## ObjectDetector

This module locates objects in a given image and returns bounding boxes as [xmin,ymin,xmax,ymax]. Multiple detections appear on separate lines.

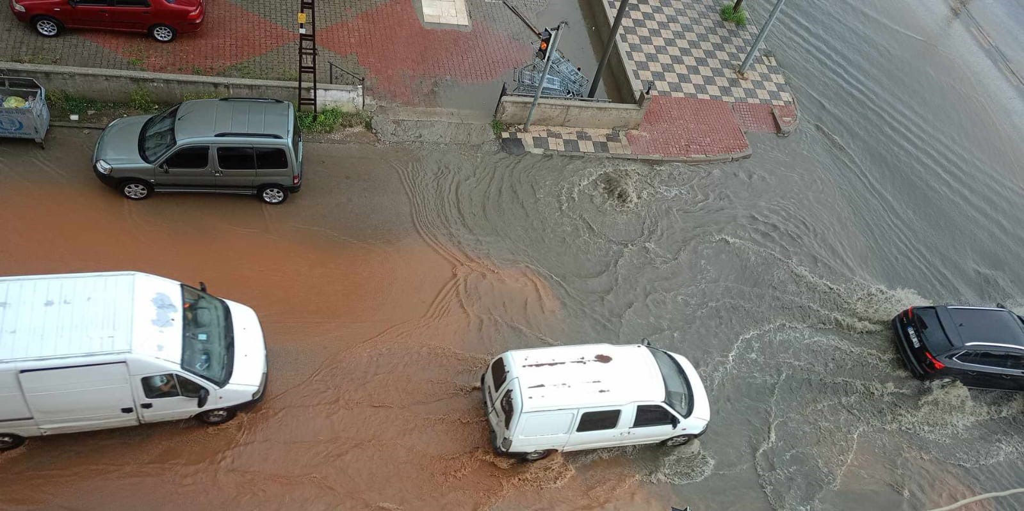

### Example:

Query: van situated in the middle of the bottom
[482,337,714,462]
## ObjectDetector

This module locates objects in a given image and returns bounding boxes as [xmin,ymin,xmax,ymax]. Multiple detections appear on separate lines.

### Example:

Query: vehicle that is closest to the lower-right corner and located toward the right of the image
[892,304,1024,395]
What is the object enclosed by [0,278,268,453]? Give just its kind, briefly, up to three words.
van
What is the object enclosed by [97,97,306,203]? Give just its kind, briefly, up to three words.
car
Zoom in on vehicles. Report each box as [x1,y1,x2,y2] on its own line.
[892,304,1024,395]
[482,337,714,462]
[97,97,306,203]
[0,278,268,453]
[12,0,208,44]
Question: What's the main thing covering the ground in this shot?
water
